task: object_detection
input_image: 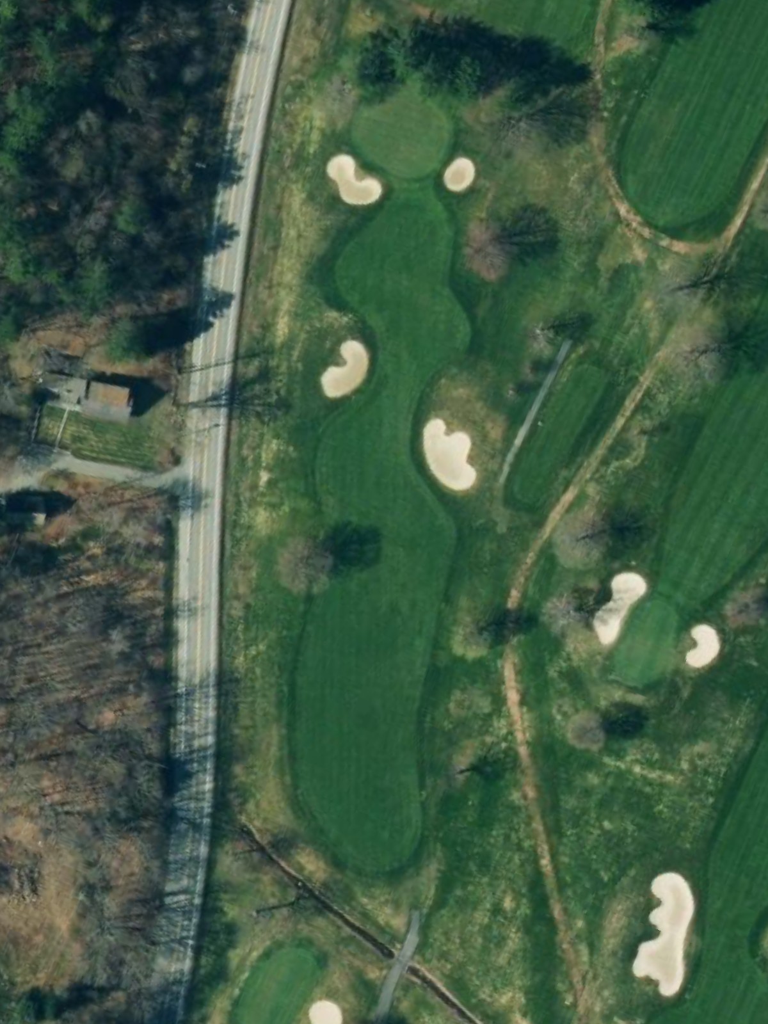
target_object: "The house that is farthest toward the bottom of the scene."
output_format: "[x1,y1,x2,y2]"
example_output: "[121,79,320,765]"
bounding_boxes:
[2,494,46,528]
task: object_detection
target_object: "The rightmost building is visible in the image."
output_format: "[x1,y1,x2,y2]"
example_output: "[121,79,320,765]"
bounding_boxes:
[78,378,131,425]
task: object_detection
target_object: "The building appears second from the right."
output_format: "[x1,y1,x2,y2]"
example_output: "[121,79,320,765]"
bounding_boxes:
[41,374,87,414]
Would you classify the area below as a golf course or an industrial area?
golf course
